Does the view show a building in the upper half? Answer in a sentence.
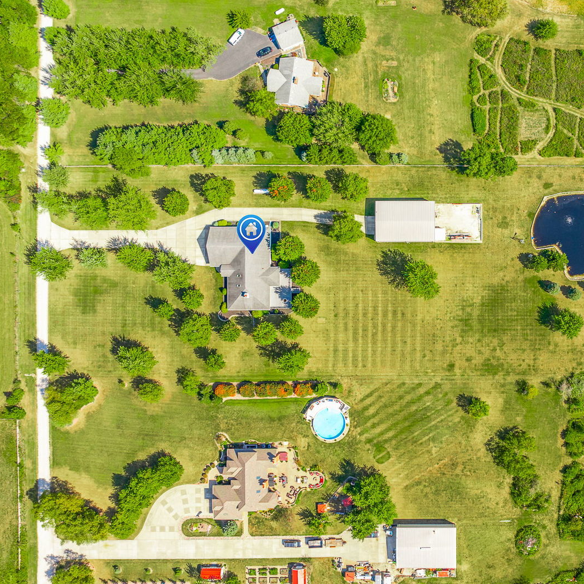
Yes, looking in the upper half, one can make out a building.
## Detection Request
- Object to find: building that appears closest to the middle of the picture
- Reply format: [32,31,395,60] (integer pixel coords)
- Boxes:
[207,226,280,310]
